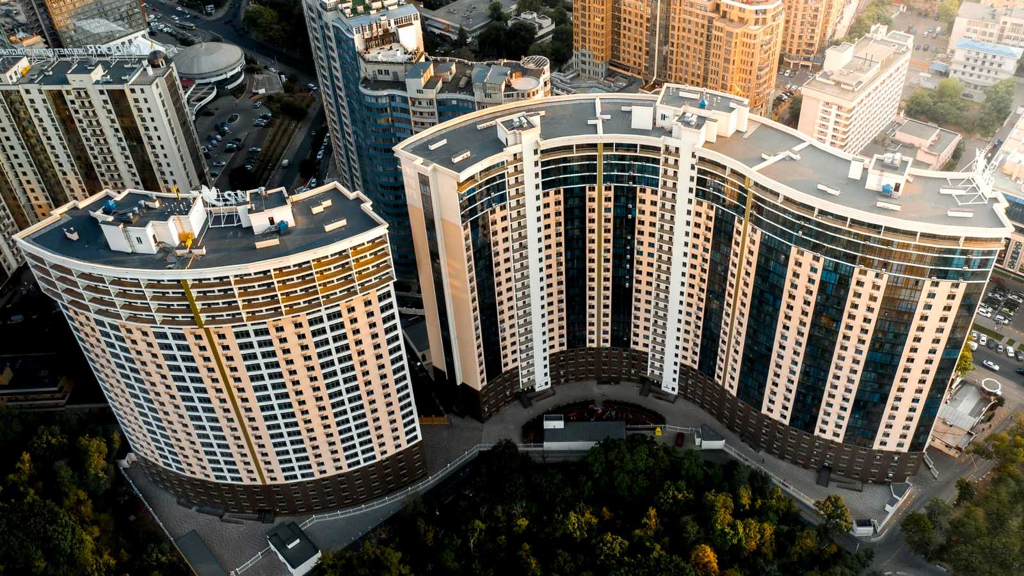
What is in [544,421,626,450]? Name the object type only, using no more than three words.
building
